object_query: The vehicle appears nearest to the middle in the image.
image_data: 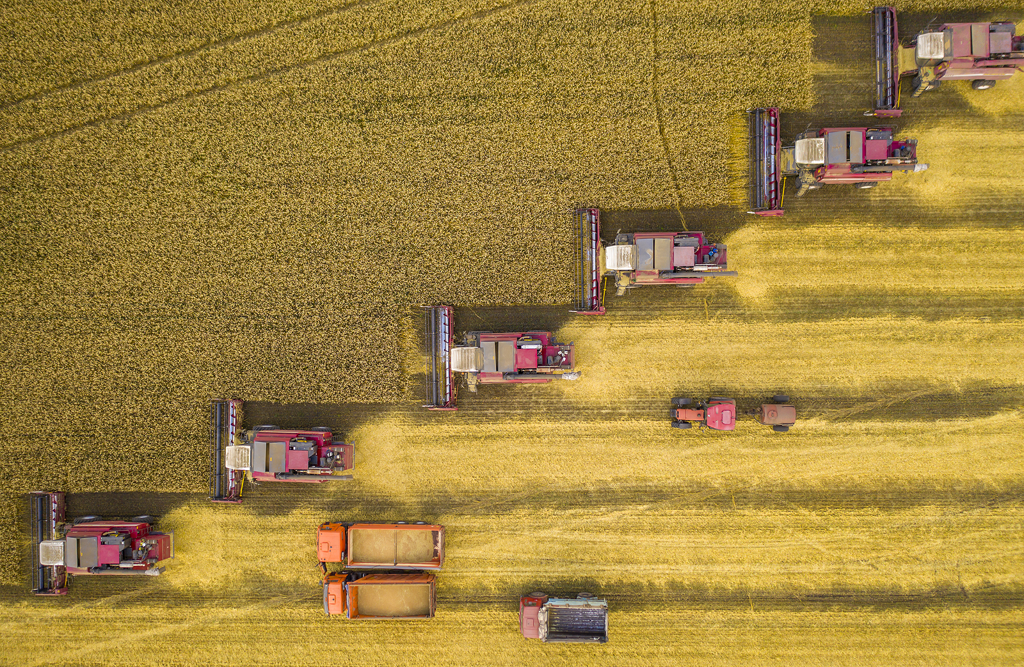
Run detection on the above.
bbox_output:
[422,303,577,410]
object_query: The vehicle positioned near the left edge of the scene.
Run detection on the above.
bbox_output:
[34,490,172,595]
